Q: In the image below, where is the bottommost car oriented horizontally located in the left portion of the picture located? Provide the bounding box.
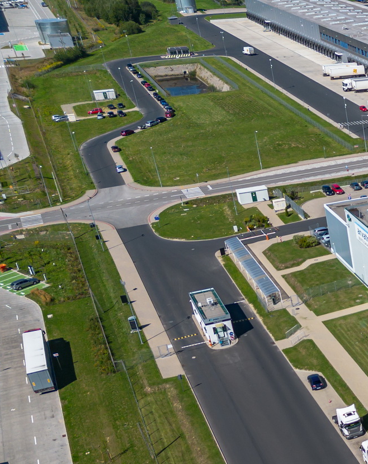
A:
[7,277,41,292]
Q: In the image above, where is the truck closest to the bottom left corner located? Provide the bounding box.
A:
[21,325,57,398]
